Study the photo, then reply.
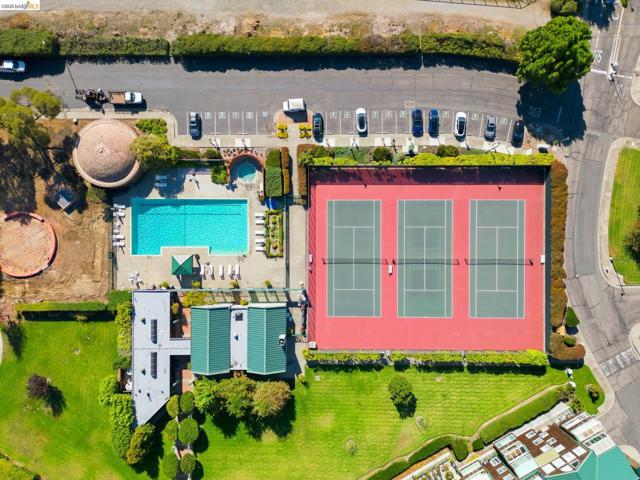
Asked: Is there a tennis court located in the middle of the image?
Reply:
Yes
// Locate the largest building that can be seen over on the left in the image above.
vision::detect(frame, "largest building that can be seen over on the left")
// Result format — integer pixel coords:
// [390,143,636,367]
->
[132,290,287,429]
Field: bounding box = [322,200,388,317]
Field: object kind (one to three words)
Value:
tennis court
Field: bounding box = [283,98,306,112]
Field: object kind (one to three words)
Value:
vehicle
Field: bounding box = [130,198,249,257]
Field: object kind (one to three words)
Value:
swimming pool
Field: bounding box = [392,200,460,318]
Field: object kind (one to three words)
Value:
tennis court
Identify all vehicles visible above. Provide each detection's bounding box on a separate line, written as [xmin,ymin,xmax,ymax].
[428,110,440,134]
[412,109,424,134]
[108,91,142,104]
[454,112,466,136]
[511,119,526,145]
[356,108,367,132]
[0,59,24,71]
[312,112,324,136]
[485,115,497,139]
[283,98,306,112]
[188,111,200,136]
